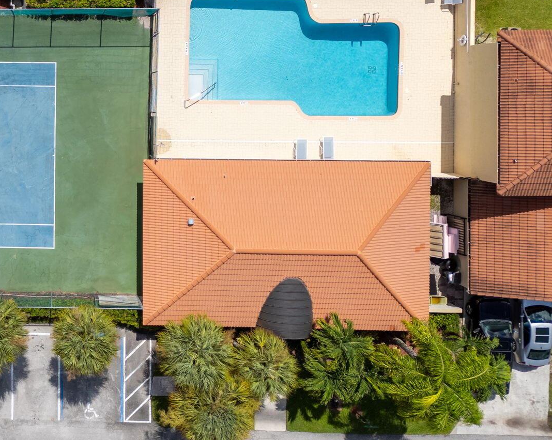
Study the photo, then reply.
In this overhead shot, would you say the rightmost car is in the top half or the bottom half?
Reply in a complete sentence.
Seen from above, the rightmost car lies in the bottom half of the view.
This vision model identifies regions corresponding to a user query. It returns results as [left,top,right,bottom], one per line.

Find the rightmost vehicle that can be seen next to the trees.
[518,301,552,370]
